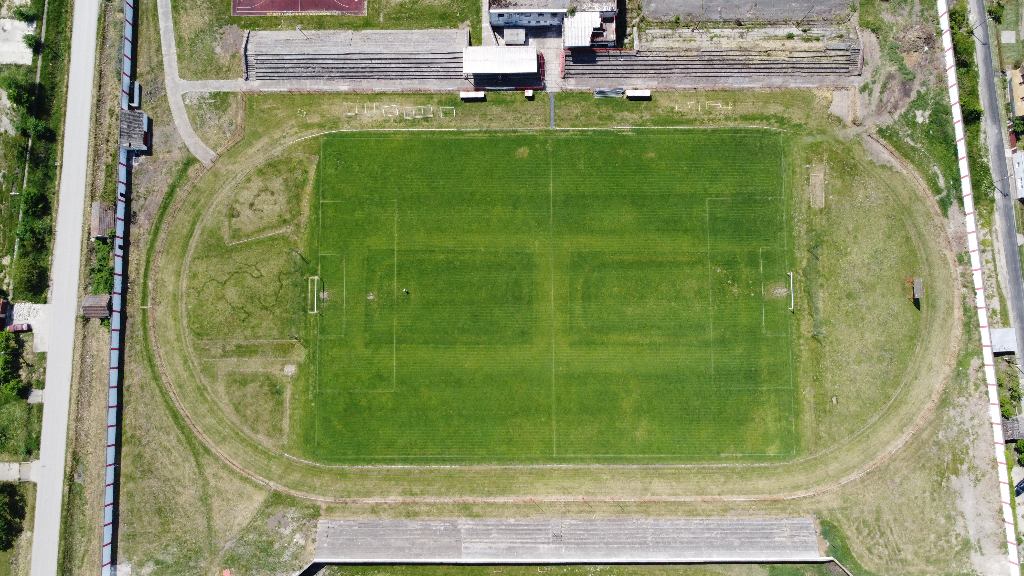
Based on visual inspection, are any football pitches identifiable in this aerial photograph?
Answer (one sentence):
Yes, looking at the shot, I can spot a football pitch.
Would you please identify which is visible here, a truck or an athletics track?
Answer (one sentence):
I can see an athletics track in this picture.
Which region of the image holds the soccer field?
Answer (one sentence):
The soccer field sits in the center section of the image.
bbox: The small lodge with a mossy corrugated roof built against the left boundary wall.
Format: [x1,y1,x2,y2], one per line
[121,111,148,151]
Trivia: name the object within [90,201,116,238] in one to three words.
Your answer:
shed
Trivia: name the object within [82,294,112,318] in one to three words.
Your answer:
shed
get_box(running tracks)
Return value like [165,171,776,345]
[153,91,956,499]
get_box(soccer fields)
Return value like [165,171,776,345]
[313,127,798,466]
